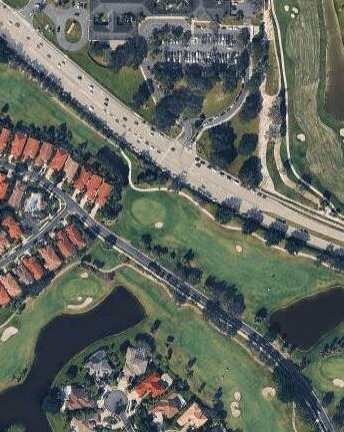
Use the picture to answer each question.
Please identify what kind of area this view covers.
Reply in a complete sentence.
This image shows a golf course.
